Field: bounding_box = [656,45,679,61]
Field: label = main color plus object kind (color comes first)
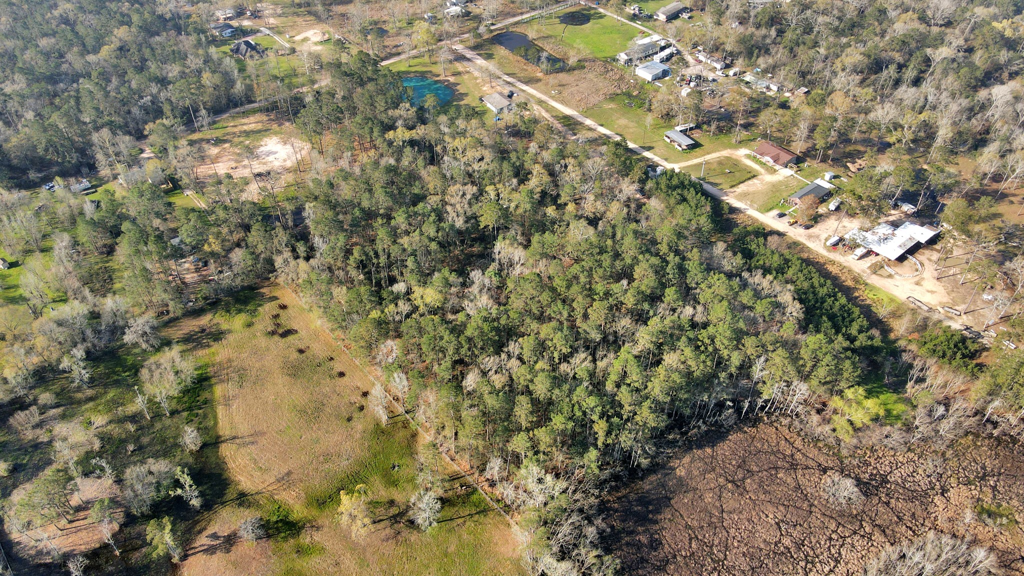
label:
white vehicle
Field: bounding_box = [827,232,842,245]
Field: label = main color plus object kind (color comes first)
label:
white vehicle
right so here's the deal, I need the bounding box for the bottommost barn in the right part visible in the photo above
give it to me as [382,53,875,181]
[843,222,940,264]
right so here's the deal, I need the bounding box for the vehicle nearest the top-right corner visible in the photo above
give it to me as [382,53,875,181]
[901,199,919,214]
